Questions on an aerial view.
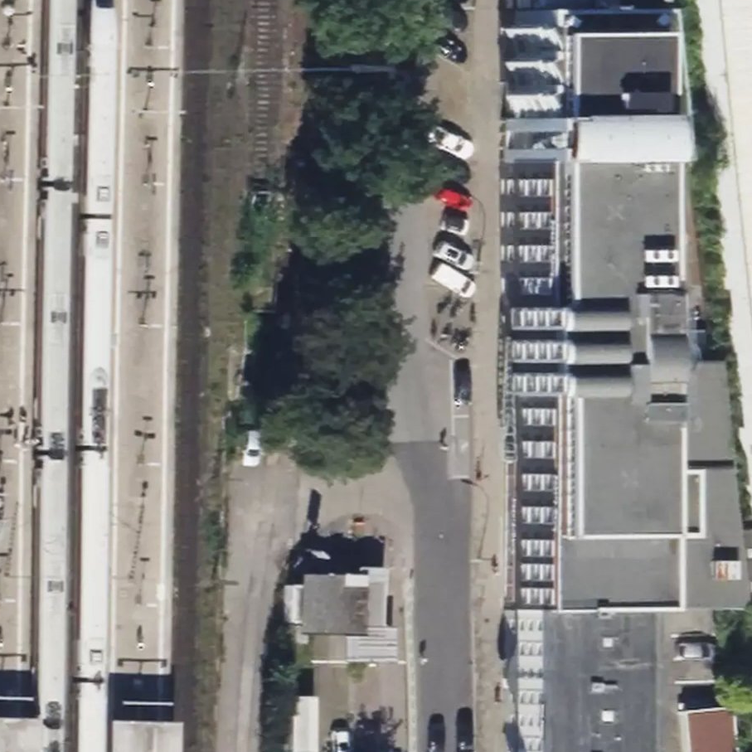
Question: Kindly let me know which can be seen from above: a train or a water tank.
train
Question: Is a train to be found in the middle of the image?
No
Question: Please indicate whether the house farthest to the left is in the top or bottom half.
bottom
